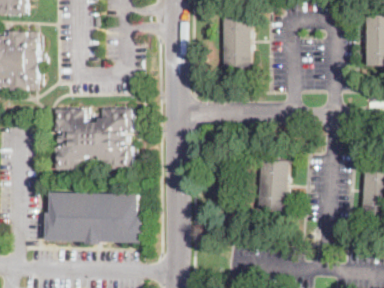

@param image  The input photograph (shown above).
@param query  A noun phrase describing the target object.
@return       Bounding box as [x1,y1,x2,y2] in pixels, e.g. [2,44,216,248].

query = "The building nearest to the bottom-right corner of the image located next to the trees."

[360,172,384,214]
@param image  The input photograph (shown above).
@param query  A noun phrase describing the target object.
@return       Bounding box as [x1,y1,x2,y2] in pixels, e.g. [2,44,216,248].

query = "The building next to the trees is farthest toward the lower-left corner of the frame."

[44,193,142,246]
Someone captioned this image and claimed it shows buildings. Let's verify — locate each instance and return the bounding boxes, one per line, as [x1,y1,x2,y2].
[53,106,137,172]
[258,160,293,210]
[223,18,257,68]
[0,0,31,23]
[367,15,384,68]
[44,193,142,246]
[360,172,384,214]
[0,30,49,99]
